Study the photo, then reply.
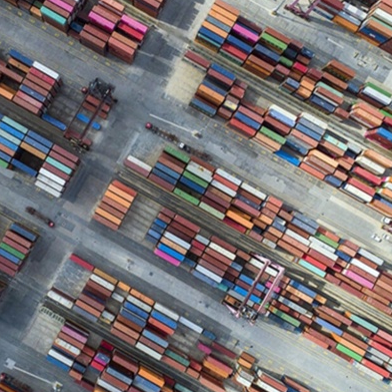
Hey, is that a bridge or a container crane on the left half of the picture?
container crane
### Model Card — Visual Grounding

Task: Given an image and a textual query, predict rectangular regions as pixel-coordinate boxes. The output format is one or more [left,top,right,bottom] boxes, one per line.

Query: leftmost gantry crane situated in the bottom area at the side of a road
[222,249,287,329]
